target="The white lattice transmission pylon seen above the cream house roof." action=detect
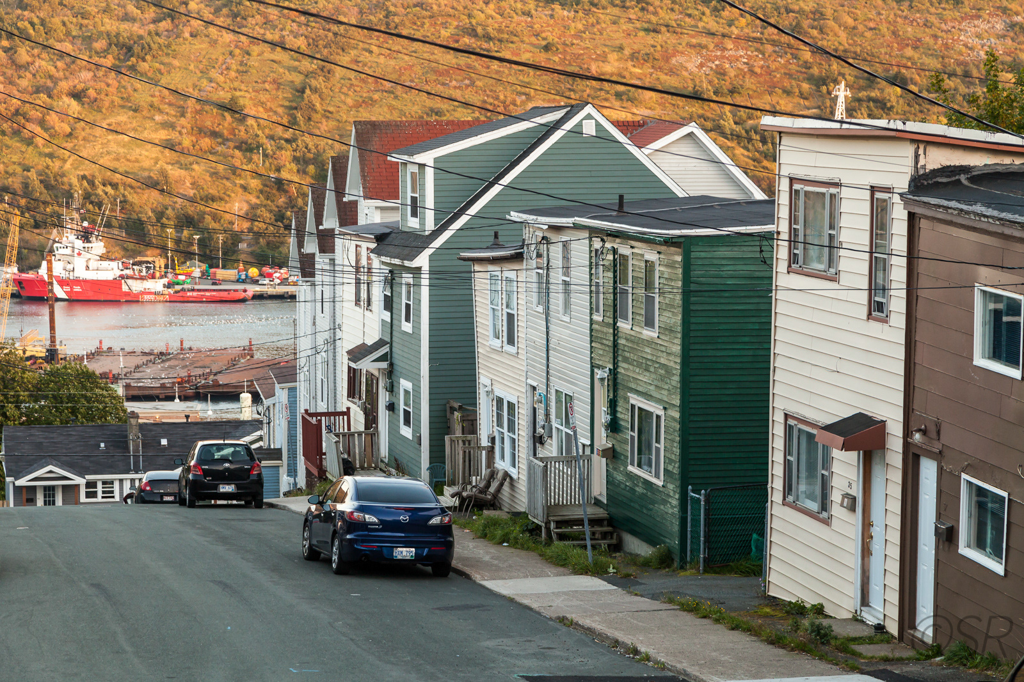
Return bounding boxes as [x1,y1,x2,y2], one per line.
[832,80,851,117]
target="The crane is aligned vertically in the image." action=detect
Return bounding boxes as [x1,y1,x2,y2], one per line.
[0,192,24,360]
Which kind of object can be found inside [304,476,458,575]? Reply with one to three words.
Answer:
car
